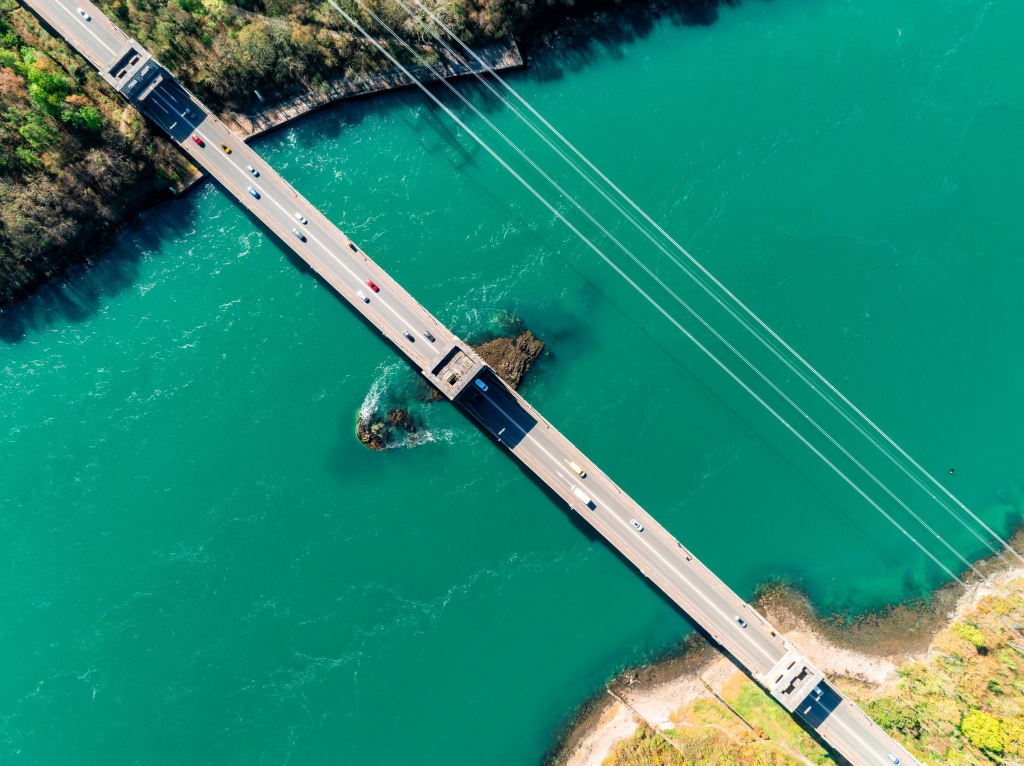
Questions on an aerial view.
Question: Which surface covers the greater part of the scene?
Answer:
water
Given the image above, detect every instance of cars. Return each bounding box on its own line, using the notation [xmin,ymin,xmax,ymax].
[366,279,379,291]
[630,519,643,531]
[472,392,485,404]
[247,186,260,198]
[192,134,204,146]
[78,8,91,21]
[474,378,488,391]
[422,329,435,341]
[184,107,197,120]
[219,141,232,154]
[734,616,747,628]
[292,228,306,241]
[887,753,900,765]
[357,290,370,302]
[294,211,307,223]
[812,687,822,697]
[402,329,415,341]
[246,164,259,177]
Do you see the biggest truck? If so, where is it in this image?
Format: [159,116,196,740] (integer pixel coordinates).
[571,486,592,507]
